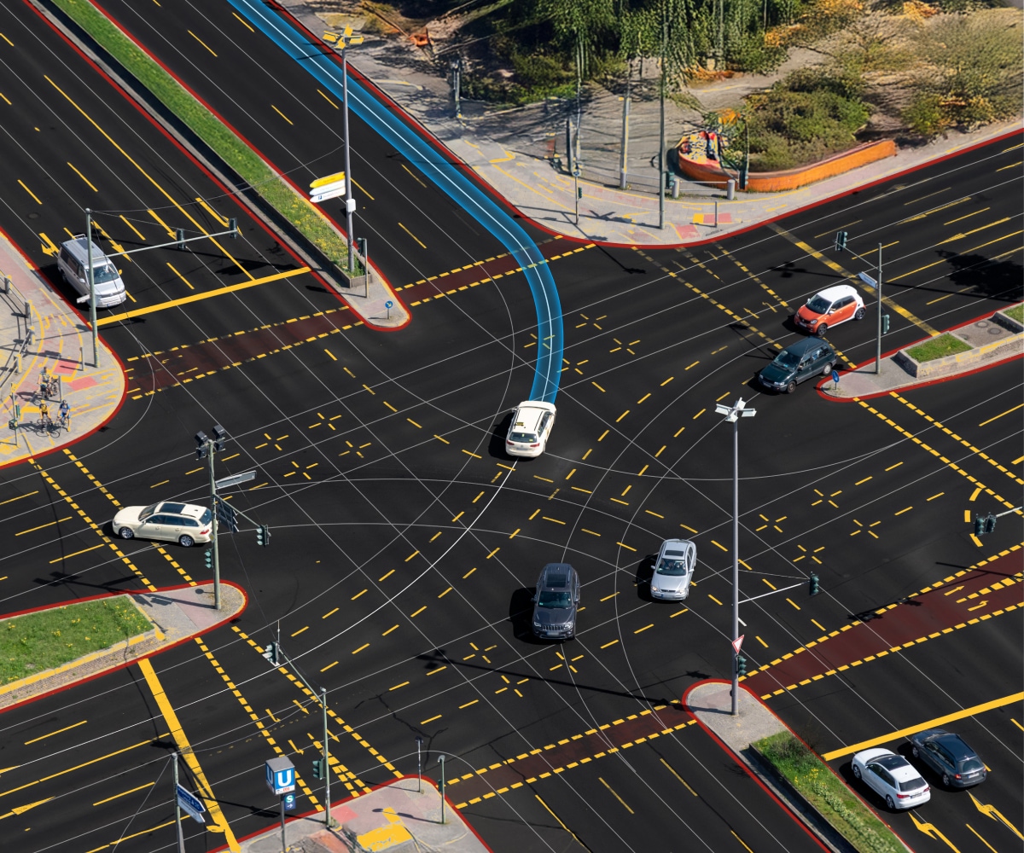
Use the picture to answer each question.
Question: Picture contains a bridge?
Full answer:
No, the frame has no bridge in it.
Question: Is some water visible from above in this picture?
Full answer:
No, there is no water in the image.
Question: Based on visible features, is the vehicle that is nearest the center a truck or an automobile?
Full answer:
From above, the vehicle that is nearest the center can be identified as an automobile.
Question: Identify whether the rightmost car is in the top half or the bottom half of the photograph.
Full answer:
The rightmost car is in the bottom half of the image.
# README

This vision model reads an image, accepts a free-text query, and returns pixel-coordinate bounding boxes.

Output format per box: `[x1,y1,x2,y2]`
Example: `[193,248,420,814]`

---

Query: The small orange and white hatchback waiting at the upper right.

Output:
[796,284,867,337]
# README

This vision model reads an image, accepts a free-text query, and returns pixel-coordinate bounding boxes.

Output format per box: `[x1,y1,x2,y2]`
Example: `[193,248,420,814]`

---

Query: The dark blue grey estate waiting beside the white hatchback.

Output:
[909,729,990,792]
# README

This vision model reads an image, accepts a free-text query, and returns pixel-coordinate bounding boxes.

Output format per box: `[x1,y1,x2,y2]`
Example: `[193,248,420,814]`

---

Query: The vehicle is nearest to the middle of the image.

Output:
[508,398,560,457]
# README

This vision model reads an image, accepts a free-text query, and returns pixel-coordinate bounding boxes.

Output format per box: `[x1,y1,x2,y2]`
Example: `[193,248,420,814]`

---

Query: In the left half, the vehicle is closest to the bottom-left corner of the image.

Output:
[114,500,212,547]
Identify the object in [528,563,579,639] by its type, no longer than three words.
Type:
car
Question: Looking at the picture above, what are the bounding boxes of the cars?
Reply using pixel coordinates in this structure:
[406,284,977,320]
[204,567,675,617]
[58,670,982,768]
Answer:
[649,541,695,600]
[758,337,836,396]
[909,729,990,792]
[528,563,579,639]
[508,398,560,457]
[114,500,212,547]
[853,751,929,810]
[796,284,867,337]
